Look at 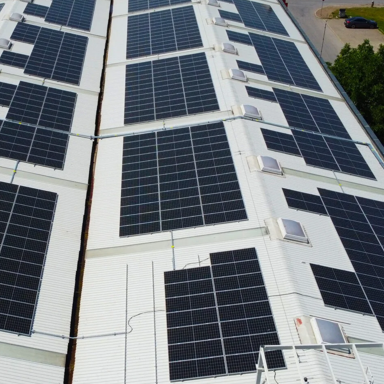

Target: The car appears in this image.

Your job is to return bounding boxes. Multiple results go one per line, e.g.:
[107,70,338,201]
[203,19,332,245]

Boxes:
[344,16,379,29]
